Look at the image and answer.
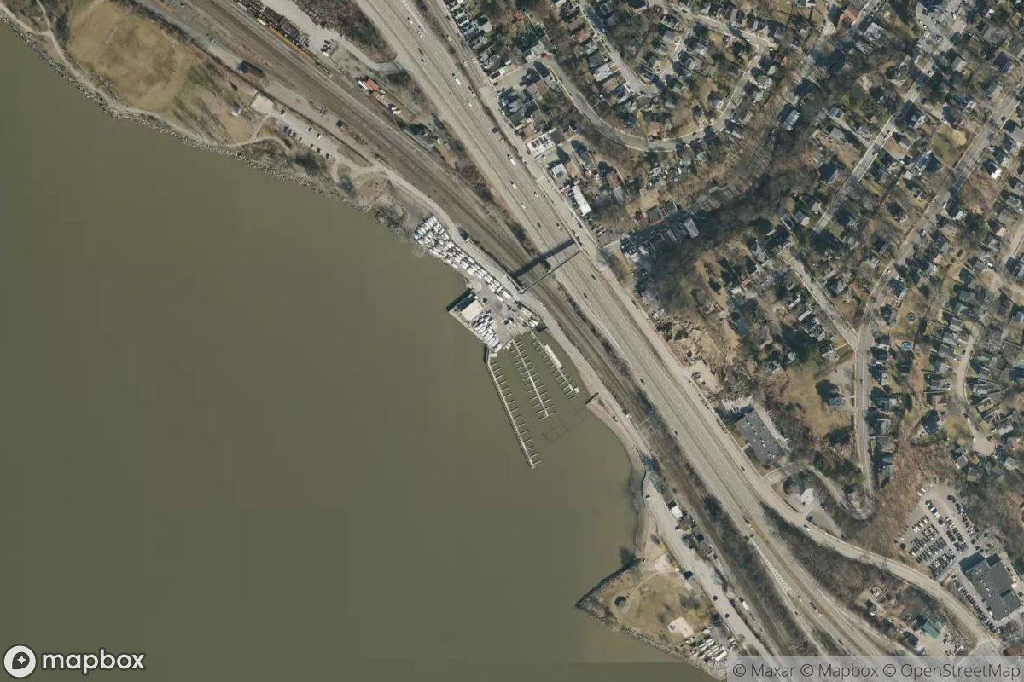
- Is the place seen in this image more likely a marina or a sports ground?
marina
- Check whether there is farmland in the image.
No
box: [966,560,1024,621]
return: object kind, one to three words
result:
building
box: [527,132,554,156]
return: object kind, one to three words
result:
building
